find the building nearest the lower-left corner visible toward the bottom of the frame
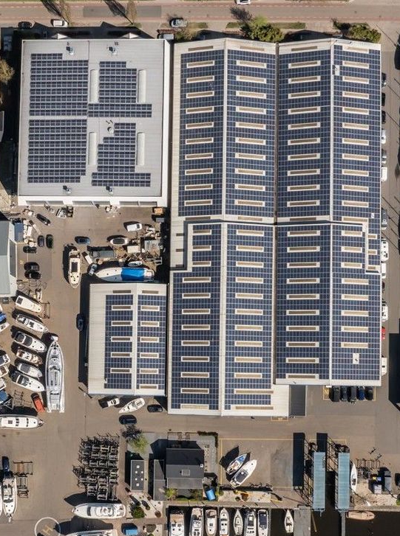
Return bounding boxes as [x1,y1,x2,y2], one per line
[130,459,145,492]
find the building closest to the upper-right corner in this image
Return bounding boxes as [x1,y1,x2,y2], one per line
[171,36,381,225]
